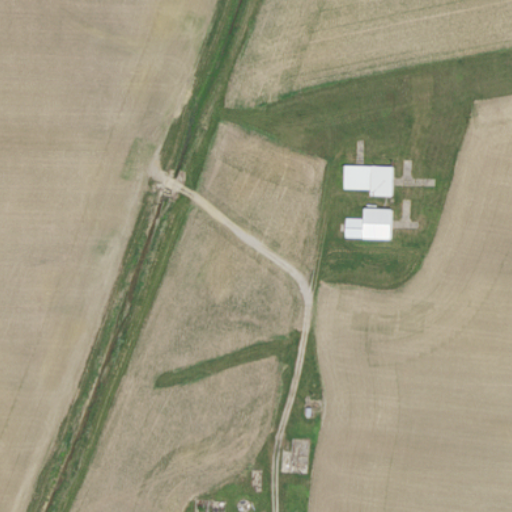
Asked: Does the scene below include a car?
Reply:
No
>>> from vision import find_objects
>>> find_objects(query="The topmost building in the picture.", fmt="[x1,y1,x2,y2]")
[345,164,394,196]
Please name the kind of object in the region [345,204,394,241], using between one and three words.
barn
